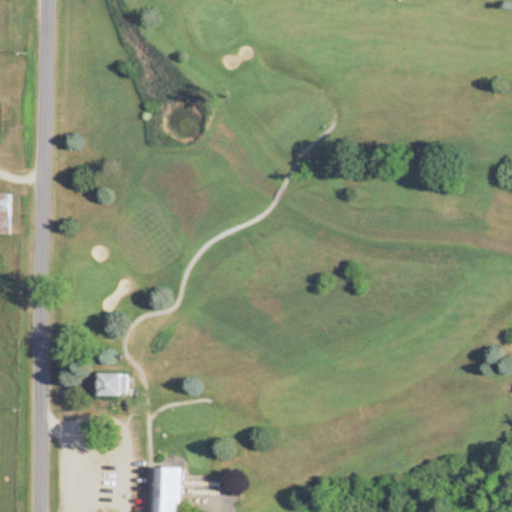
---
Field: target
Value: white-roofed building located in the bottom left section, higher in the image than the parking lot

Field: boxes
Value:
[95,374,134,397]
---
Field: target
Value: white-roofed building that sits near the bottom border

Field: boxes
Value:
[152,467,184,512]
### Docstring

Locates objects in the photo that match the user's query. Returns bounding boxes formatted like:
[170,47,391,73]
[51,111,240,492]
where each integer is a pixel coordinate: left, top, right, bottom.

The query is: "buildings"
[95,374,134,397]
[0,193,14,235]
[152,467,184,512]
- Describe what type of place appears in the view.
golf course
